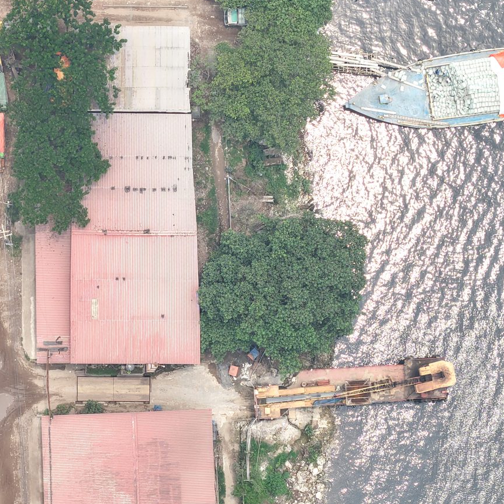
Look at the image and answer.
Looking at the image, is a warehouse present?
Yes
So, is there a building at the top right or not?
No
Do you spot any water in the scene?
Yes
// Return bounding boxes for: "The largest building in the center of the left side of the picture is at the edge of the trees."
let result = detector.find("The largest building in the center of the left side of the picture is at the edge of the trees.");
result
[35,114,201,367]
